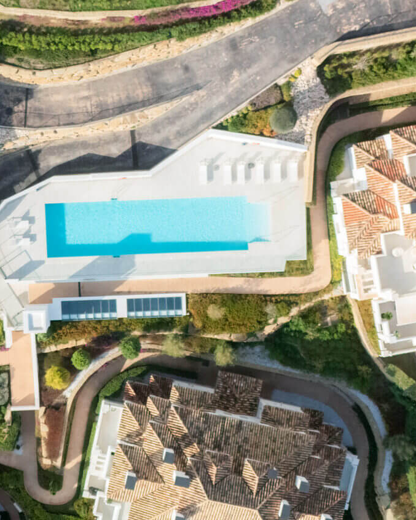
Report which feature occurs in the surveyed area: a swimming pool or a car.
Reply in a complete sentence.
The image shows a swimming pool.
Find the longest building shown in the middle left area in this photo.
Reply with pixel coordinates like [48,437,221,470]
[30,284,187,322]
